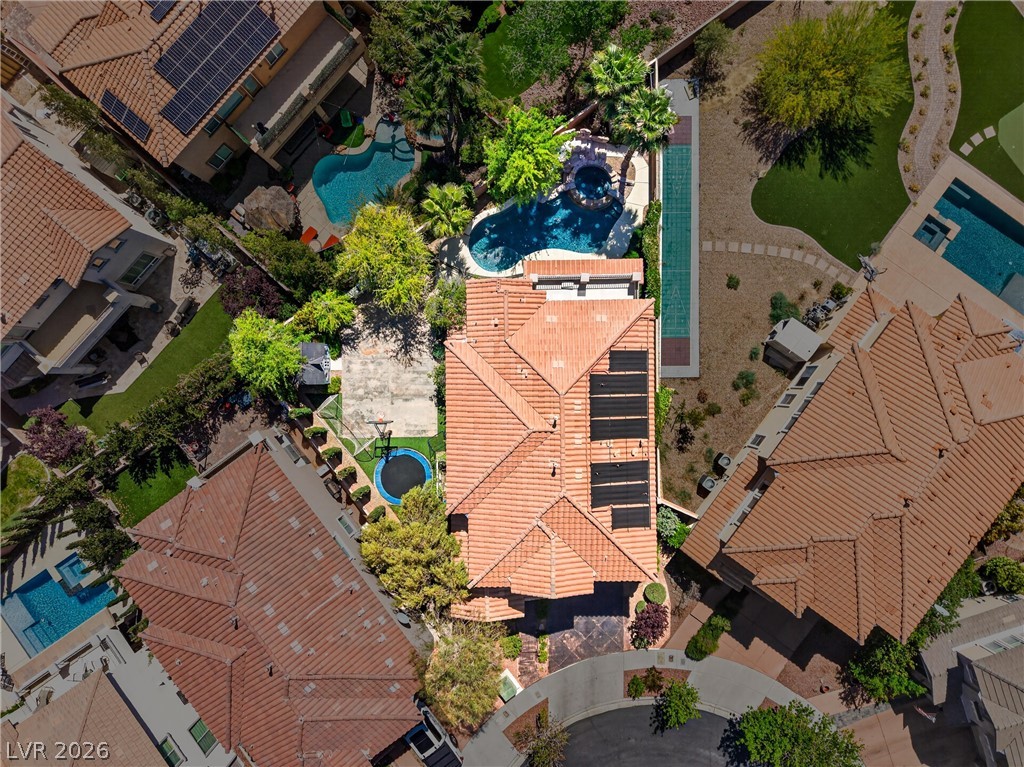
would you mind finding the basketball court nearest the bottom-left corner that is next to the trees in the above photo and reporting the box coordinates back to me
[342,348,438,438]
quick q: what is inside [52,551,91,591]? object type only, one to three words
swimming pool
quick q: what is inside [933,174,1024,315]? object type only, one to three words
swimming pool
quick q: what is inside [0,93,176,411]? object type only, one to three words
house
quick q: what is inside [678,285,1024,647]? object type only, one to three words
house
